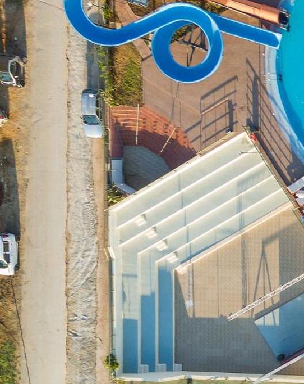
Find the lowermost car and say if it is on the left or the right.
left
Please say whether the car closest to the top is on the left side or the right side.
left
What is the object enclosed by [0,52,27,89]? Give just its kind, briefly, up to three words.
car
